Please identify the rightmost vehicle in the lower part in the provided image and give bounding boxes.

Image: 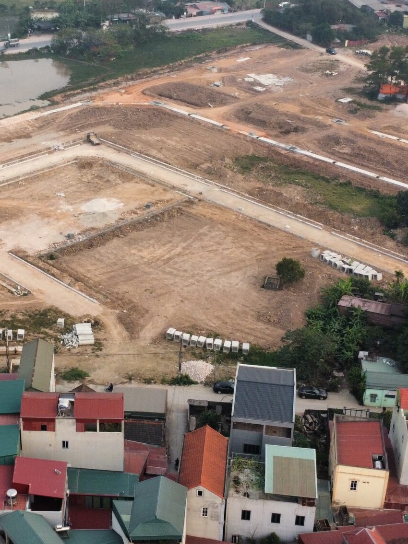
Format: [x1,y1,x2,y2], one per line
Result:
[299,386,329,400]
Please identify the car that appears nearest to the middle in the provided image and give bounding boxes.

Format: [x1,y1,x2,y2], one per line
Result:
[209,381,234,394]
